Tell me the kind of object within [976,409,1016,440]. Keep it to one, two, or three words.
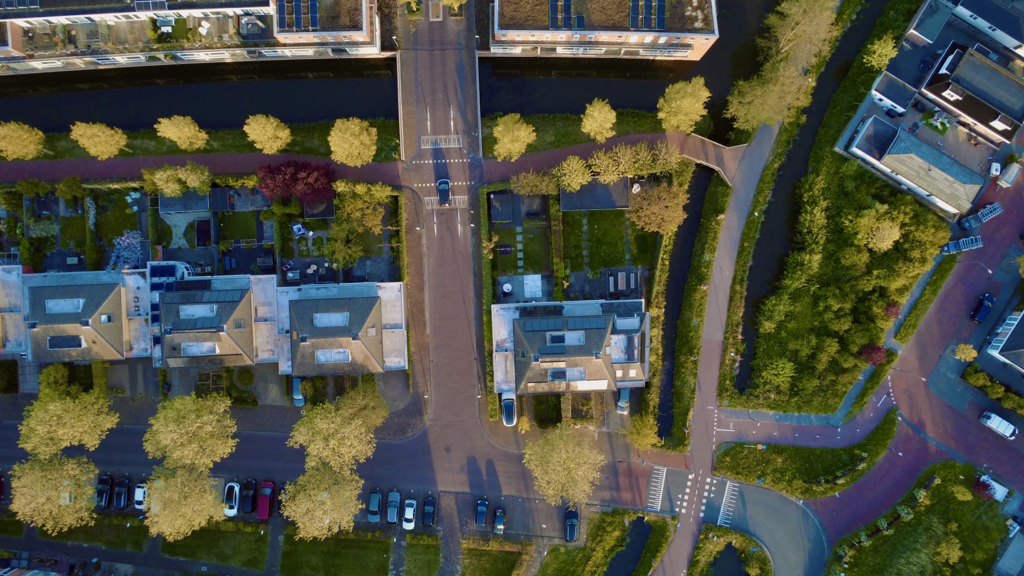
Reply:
van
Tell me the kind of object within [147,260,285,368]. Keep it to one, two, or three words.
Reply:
house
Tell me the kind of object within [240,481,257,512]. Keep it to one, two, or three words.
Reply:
car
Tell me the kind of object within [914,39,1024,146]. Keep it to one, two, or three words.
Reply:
house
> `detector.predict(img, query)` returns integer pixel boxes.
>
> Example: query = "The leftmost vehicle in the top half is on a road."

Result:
[436,177,451,208]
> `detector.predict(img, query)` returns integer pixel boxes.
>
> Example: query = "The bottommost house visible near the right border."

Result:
[984,296,1024,378]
